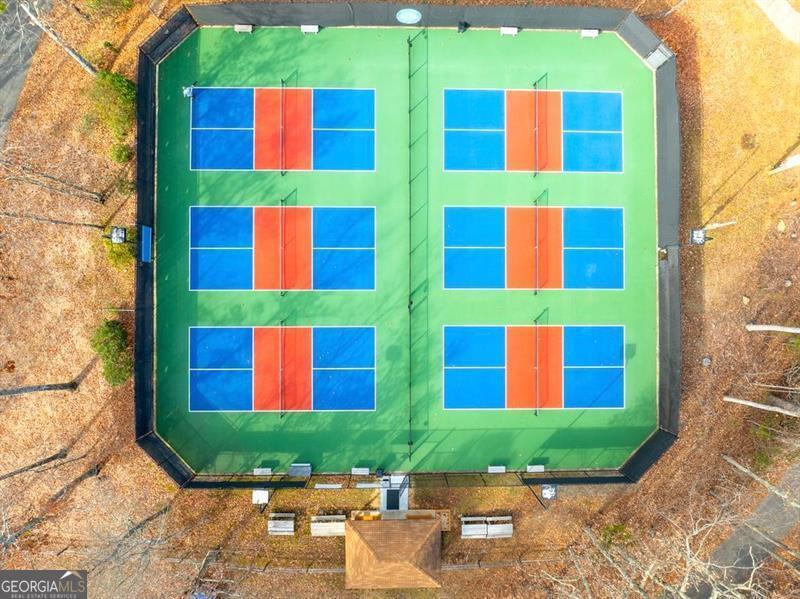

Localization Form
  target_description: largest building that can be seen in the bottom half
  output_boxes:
[345,507,452,589]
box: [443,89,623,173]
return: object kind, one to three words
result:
sports court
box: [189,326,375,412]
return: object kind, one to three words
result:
sports court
